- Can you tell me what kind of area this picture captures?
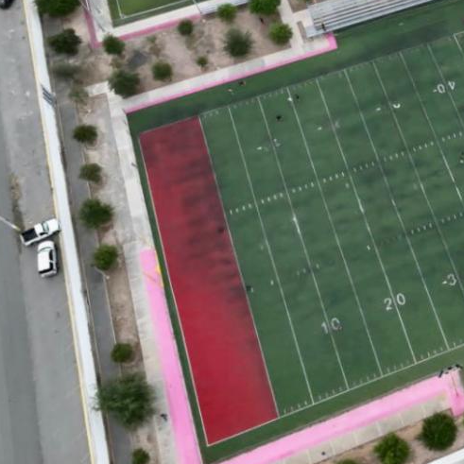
sports ground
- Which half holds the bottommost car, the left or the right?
left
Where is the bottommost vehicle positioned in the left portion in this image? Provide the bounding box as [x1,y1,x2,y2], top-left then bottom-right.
[34,240,55,275]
